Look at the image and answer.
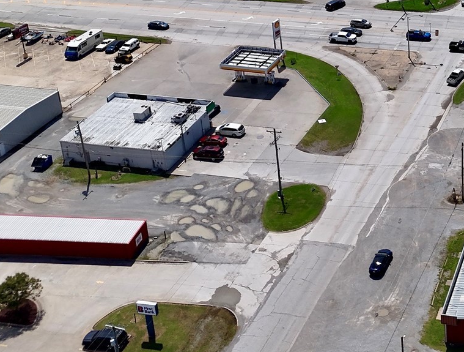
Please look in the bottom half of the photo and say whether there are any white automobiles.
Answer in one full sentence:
No, I see no white automobile in the bottom half of the photo.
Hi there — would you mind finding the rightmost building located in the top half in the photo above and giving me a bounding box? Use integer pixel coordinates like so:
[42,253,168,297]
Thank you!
[56,92,211,174]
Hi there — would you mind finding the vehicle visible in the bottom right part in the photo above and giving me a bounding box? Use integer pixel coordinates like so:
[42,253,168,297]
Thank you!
[368,247,393,275]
